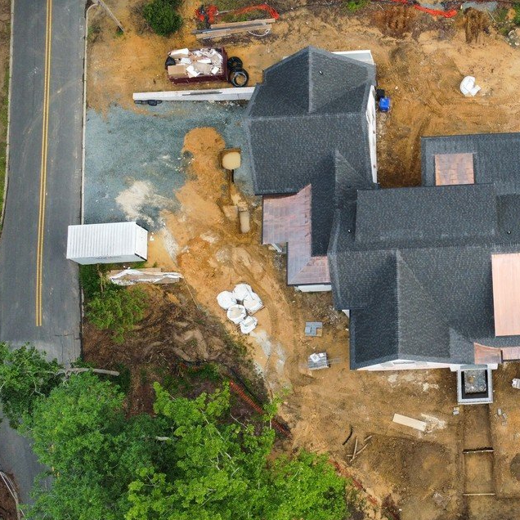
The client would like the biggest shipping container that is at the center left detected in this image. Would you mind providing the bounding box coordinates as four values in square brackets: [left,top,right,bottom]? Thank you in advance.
[66,221,148,266]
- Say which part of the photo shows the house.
right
